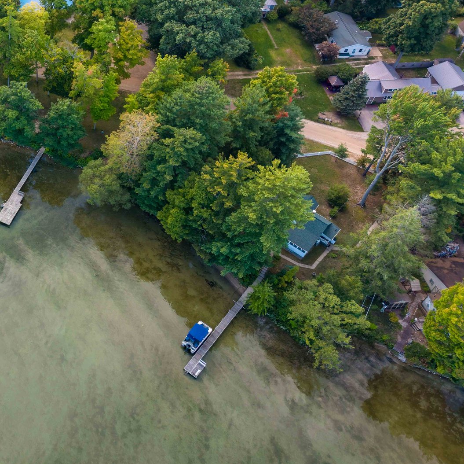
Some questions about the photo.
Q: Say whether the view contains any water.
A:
Yes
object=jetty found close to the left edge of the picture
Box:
[0,147,45,228]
